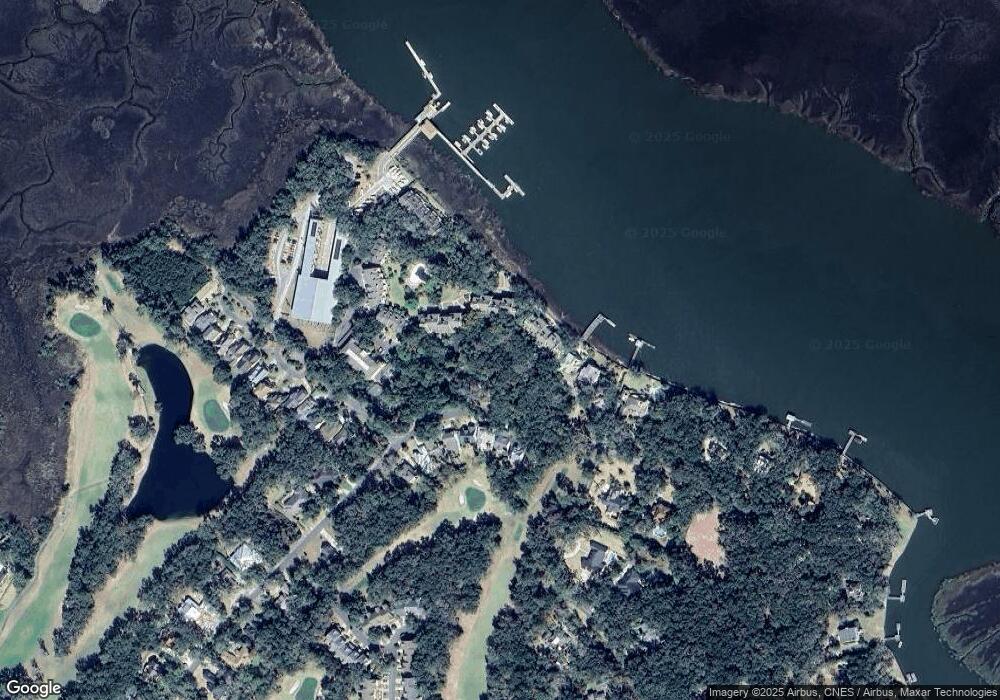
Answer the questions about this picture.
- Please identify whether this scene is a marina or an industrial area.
marina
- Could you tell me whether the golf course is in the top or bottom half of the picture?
bottom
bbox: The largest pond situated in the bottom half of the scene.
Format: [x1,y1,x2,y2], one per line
[128,345,230,518]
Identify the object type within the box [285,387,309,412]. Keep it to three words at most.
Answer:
house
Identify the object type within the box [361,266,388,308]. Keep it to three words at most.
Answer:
building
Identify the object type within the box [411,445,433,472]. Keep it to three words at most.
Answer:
house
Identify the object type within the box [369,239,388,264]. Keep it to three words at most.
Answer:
building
